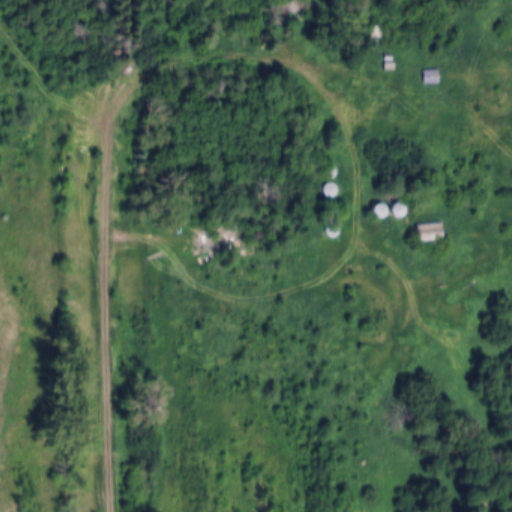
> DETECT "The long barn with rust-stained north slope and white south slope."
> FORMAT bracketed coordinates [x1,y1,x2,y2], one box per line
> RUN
[418,222,444,241]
